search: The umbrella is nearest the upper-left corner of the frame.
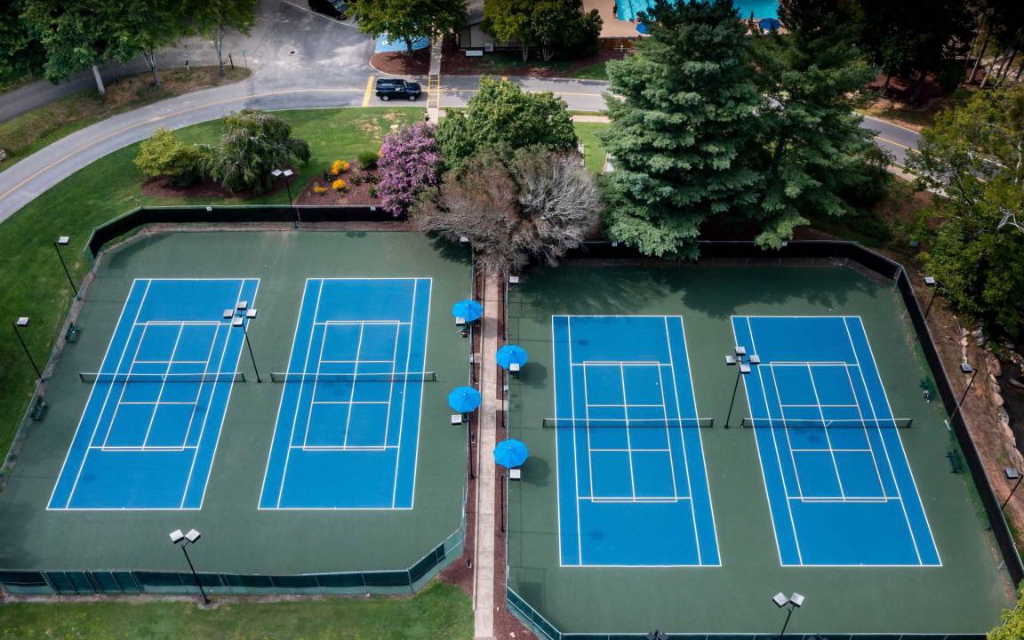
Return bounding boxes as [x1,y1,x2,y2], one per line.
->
[452,299,480,328]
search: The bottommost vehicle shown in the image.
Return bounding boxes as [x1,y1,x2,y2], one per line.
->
[374,76,422,100]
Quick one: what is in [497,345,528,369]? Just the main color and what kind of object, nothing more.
blue umbrella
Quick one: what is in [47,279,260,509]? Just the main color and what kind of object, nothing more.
blue tennis court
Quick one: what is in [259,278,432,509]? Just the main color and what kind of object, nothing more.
blue tennis court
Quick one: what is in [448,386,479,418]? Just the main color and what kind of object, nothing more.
blue umbrella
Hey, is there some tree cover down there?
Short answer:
Yes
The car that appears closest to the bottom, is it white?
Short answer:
No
